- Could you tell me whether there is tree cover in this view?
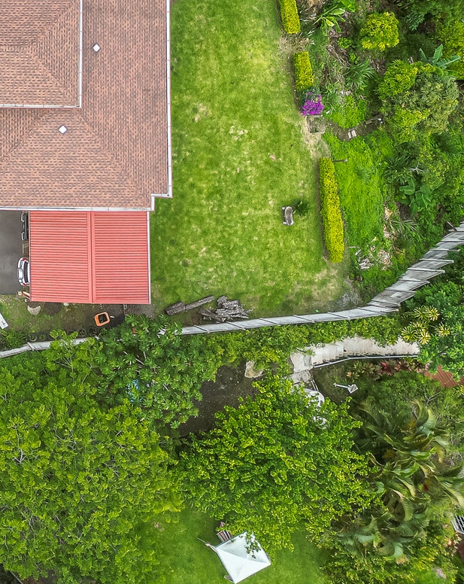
Yes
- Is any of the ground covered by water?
No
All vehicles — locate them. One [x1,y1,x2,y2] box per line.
[19,212,28,241]
[16,254,29,287]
